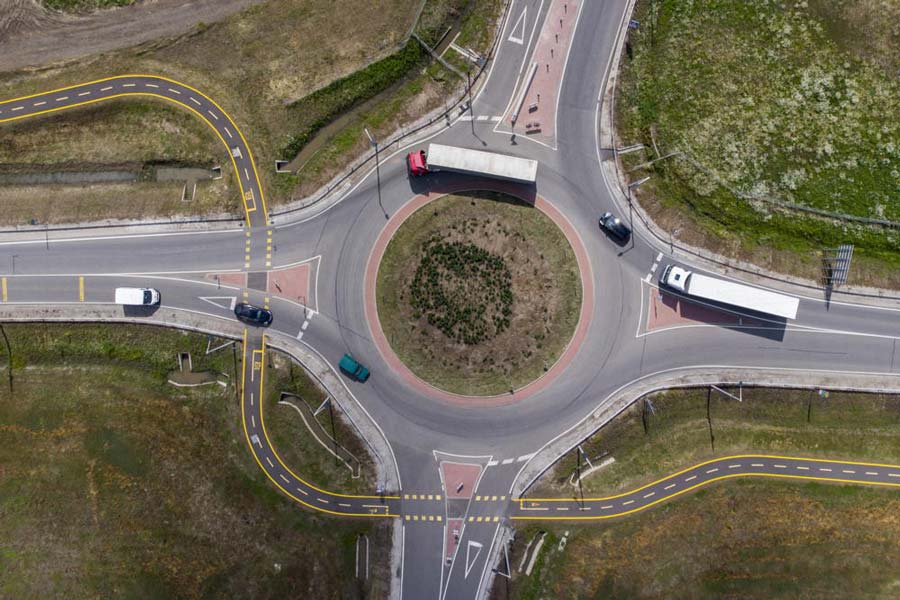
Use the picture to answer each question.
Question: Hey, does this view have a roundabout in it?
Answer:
Yes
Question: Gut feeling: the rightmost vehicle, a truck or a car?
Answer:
truck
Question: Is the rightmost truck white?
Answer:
Yes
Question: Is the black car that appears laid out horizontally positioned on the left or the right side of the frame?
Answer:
left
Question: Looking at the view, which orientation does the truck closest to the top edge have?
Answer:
from side to side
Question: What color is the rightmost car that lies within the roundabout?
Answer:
black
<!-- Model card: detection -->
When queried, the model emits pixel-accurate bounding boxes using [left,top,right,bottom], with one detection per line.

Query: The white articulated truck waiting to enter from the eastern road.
[657,264,801,319]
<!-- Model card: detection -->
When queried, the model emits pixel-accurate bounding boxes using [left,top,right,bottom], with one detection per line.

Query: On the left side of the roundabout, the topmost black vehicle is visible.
[236,305,273,325]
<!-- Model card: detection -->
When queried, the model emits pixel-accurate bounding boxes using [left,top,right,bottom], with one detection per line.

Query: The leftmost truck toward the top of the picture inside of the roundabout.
[404,143,540,184]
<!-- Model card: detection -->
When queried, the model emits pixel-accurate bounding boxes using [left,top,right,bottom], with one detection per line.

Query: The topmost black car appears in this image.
[598,213,630,244]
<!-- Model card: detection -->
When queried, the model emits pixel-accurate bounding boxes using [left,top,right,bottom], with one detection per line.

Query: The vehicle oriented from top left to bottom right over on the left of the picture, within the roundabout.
[339,353,369,380]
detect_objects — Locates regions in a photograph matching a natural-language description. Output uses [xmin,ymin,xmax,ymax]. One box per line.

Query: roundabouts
[318,128,643,454]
